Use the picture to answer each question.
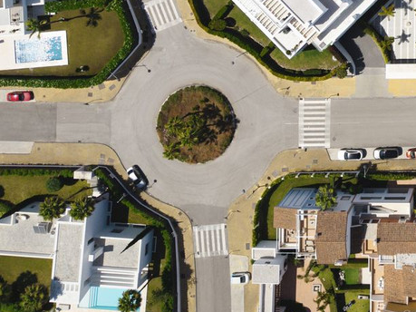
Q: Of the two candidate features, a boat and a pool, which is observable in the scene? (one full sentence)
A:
Of the two, only a pool appears.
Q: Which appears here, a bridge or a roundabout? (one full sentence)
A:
It is a roundabout that can be seen here.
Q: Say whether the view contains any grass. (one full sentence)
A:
Yes, grass can be seen from above here.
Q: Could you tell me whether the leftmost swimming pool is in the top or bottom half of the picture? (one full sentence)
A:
The top half of the photo is where the leftmost swimming pool is.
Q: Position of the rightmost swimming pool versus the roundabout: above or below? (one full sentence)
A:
Within the scene, the rightmost swimming pool can be found below the roundabout.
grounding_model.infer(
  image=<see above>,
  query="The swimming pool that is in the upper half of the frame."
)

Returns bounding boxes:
[0,30,68,70]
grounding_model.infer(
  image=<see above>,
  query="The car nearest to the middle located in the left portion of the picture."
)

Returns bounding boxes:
[126,164,149,190]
